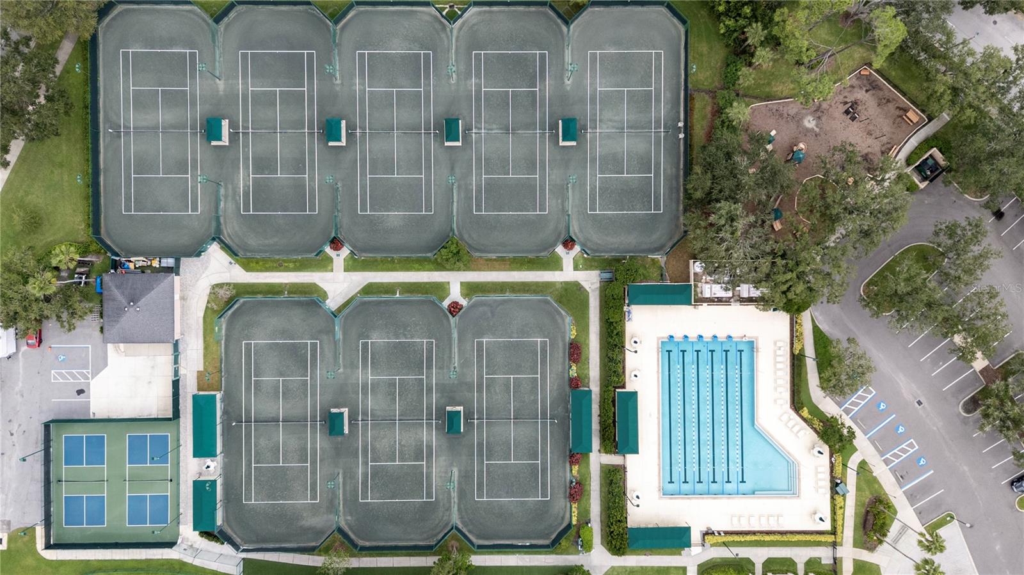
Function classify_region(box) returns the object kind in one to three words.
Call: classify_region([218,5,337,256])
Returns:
tennis court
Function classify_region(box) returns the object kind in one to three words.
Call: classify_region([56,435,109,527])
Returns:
sports court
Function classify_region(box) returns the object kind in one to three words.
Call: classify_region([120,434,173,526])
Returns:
sports court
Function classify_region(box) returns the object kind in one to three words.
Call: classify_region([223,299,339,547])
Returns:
tennis court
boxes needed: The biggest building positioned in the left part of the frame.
[102,273,180,343]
